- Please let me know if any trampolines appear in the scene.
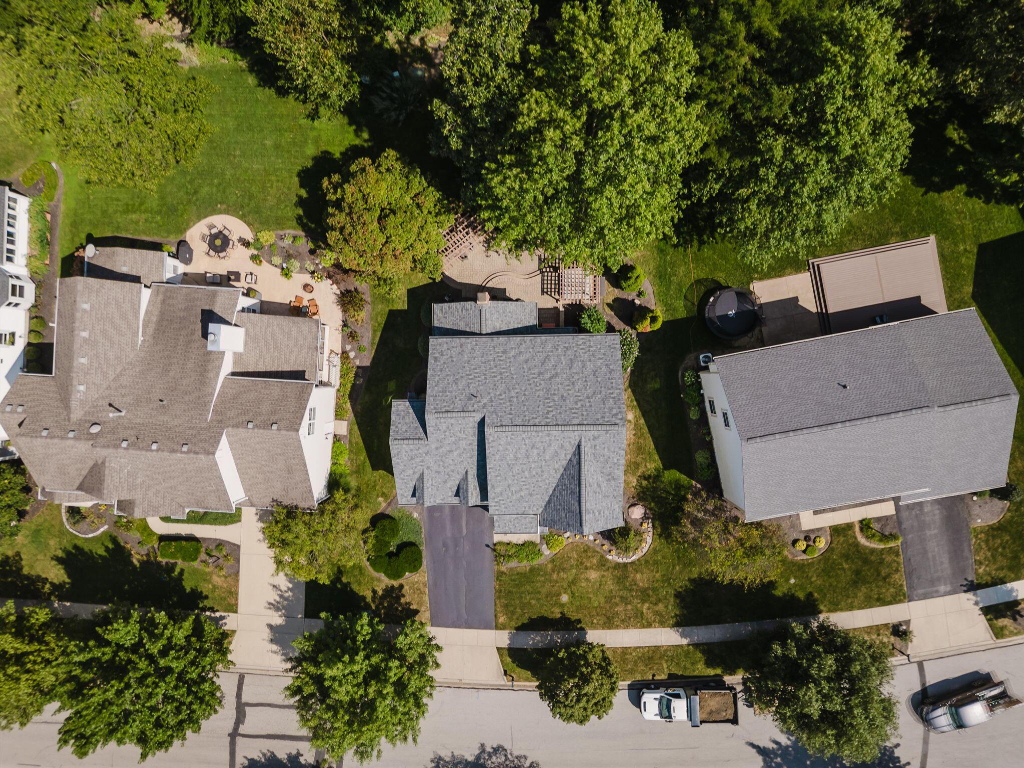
Yes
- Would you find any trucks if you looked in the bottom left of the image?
No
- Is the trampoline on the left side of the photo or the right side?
right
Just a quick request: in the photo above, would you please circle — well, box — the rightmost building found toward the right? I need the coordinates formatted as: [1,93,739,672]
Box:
[693,307,1018,522]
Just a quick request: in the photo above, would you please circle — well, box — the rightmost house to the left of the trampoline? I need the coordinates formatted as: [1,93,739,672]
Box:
[391,289,627,534]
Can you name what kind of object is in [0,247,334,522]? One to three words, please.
house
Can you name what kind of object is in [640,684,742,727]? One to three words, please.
truck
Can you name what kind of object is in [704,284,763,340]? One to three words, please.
trampoline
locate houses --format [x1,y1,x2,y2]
[391,289,627,534]
[693,307,1018,522]
[0,247,334,522]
